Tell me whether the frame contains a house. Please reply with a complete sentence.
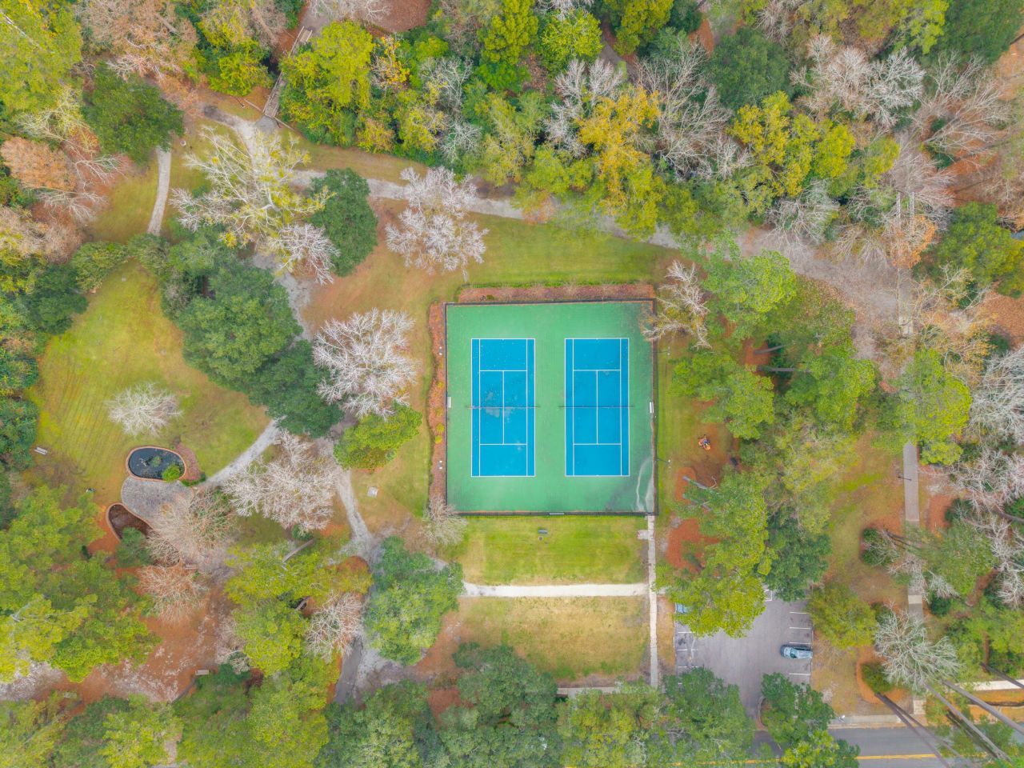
No, I find no house anywhere in the image.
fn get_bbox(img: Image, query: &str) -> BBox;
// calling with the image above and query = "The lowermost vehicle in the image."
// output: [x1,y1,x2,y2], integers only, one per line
[781,645,812,661]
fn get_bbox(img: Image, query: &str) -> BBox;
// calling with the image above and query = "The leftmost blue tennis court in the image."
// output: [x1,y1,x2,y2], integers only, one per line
[465,338,541,476]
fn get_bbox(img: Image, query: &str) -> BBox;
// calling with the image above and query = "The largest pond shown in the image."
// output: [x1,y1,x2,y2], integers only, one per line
[125,446,186,482]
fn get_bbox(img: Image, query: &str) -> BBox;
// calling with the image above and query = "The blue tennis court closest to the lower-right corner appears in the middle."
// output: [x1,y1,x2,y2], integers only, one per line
[560,338,636,476]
